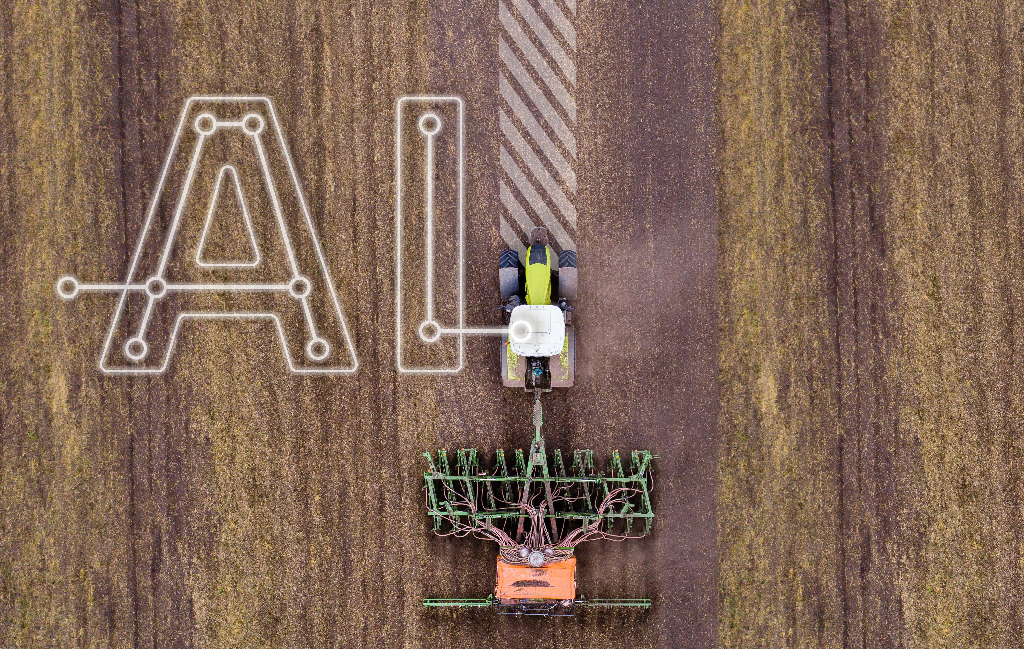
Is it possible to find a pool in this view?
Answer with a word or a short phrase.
No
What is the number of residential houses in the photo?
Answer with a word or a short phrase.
0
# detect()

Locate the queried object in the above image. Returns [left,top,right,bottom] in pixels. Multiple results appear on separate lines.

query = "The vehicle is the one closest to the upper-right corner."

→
[498,228,578,391]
